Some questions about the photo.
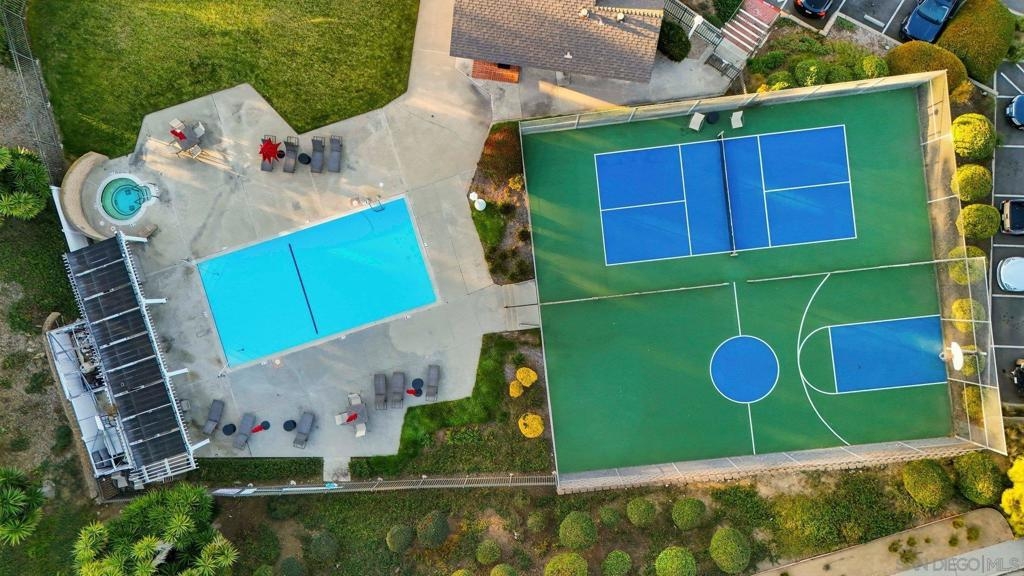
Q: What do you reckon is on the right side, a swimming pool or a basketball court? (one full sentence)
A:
Visible on the right side is a basketball court.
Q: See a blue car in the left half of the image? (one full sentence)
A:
No, there's no blue car to be seen in the left half of the image.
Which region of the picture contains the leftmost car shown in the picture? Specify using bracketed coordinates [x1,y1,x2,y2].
[792,0,833,22]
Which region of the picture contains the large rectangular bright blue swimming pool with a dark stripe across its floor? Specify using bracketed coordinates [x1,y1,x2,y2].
[183,182,442,377]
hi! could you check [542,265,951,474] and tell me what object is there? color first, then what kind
green basketball court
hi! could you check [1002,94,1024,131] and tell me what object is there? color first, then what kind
blue car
